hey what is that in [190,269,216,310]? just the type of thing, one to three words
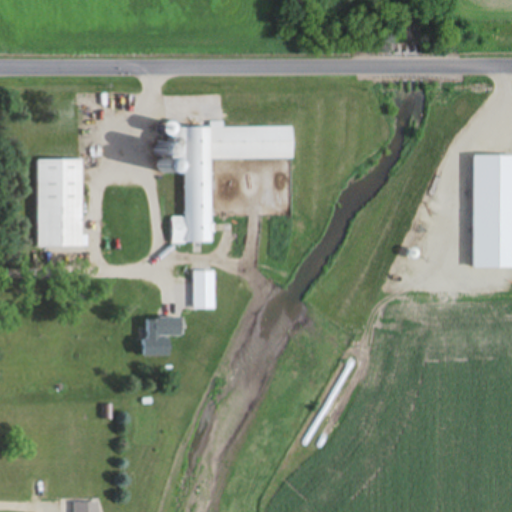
shed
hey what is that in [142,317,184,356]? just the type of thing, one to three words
house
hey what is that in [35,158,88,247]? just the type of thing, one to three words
shed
